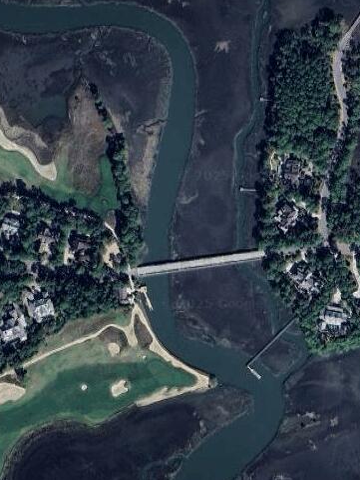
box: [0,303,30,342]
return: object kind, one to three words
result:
house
